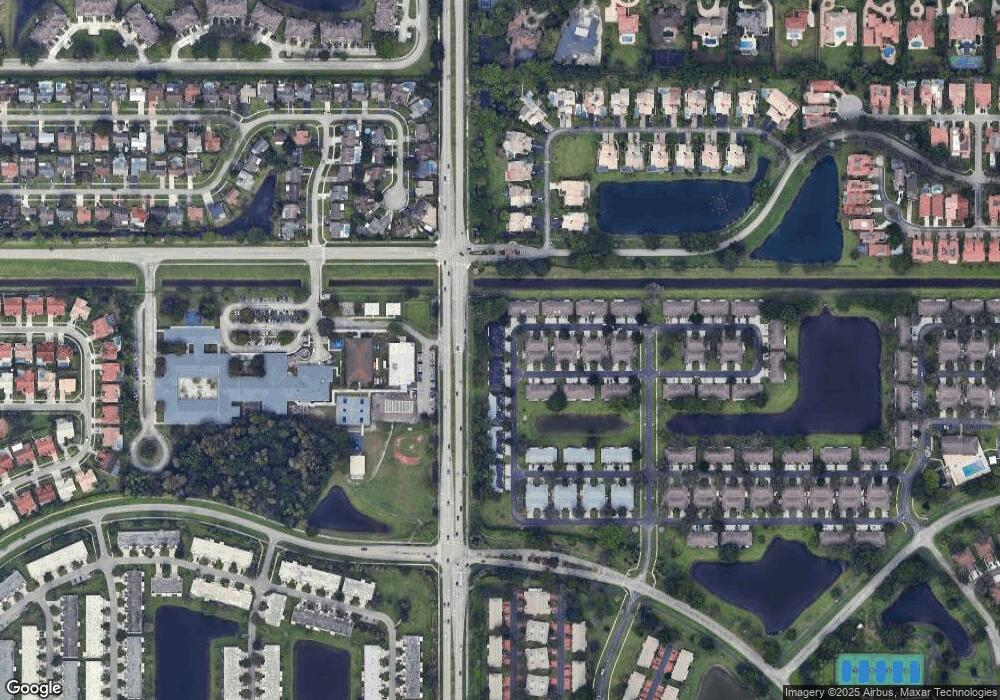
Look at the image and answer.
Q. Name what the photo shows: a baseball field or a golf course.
baseball field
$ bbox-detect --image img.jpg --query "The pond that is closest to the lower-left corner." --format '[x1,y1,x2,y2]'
[151,605,239,700]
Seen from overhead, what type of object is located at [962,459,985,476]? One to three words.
swimming pool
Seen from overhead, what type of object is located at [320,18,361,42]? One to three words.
building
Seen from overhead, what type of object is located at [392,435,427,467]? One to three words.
baseball field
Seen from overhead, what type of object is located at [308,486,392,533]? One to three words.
pond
